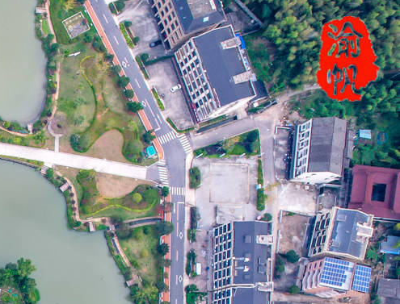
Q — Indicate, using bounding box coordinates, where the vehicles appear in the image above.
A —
[169,83,181,92]
[196,261,204,276]
[149,38,162,47]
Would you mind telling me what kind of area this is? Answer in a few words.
residential area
